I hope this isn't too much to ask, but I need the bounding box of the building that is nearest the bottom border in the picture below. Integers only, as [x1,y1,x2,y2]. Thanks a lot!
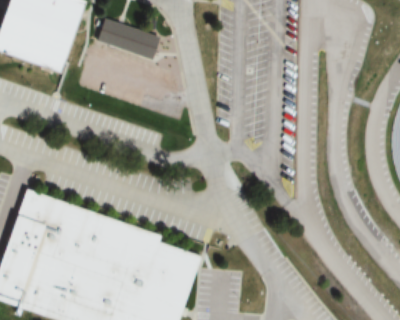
[0,188,203,320]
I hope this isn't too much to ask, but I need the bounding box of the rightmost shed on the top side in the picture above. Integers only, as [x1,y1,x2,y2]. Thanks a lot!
[98,18,159,58]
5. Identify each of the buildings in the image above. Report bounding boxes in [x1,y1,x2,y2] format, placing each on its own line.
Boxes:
[0,188,203,320]
[98,18,159,58]
[0,0,86,74]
